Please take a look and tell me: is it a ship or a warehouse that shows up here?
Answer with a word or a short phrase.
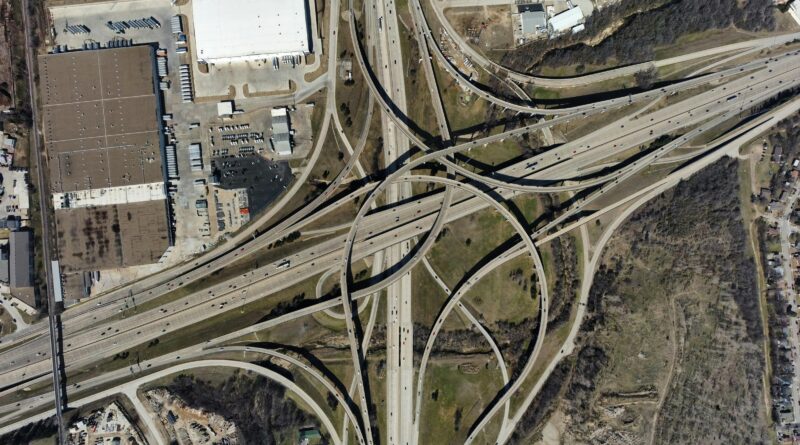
warehouse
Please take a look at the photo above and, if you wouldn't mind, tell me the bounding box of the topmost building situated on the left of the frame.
[193,0,312,65]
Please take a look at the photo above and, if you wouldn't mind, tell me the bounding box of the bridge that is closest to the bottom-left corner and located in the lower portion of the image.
[48,315,63,418]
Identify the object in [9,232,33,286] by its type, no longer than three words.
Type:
building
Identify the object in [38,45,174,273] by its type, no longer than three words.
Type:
warehouse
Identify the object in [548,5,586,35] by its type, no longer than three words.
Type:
building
